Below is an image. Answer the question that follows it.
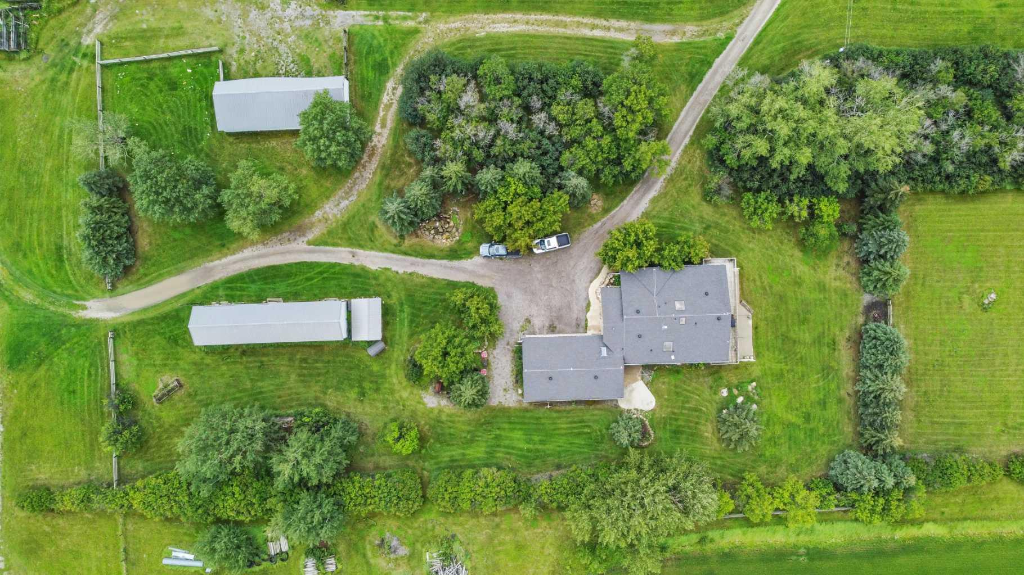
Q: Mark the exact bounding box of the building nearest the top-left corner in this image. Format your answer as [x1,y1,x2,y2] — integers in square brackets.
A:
[213,77,350,134]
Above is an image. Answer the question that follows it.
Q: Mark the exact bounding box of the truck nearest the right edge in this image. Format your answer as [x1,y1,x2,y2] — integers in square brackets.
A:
[532,232,572,253]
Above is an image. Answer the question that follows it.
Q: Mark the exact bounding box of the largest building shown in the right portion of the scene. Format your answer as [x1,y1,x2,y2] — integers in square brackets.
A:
[514,264,731,407]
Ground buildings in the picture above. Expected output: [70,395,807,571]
[213,77,350,134]
[514,264,731,407]
[351,296,384,341]
[188,297,349,345]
